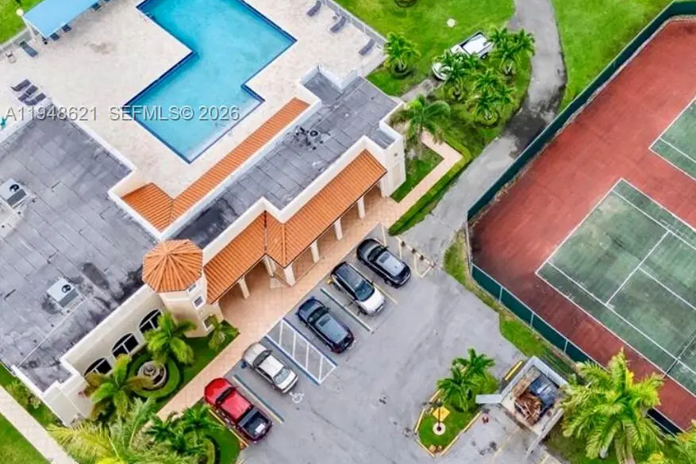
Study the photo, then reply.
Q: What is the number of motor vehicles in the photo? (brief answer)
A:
6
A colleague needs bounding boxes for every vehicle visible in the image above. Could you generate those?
[201,373,279,449]
[293,298,360,359]
[238,339,305,401]
[324,261,388,318]
[428,28,495,78]
[353,235,419,291]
